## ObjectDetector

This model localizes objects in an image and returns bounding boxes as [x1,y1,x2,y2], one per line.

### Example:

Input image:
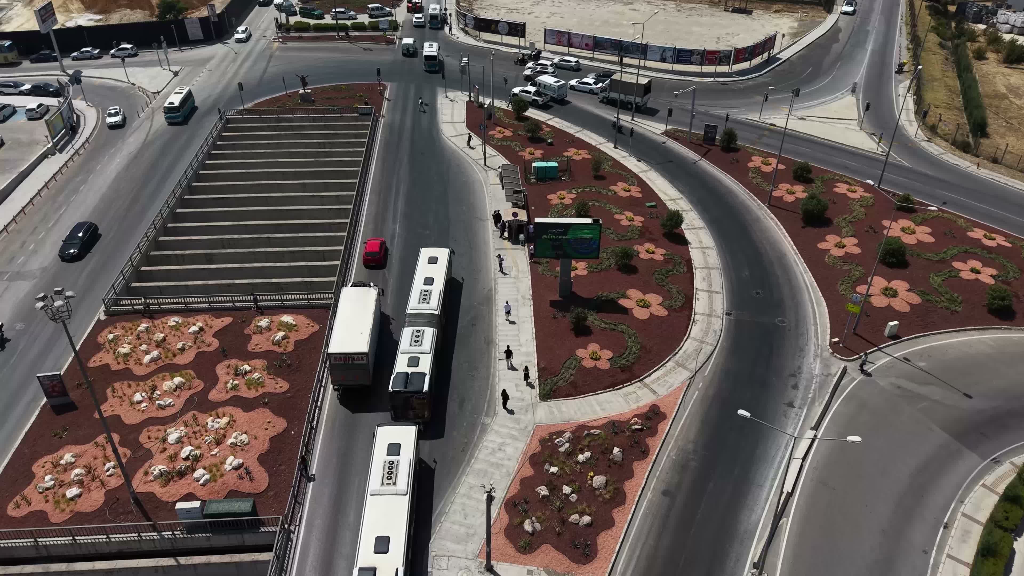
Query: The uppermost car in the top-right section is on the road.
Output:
[843,1,856,15]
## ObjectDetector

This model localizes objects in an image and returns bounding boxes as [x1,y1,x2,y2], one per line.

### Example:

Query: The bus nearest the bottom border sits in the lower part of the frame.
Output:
[352,425,426,576]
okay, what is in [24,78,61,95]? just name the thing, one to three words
car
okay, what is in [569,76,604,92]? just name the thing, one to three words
car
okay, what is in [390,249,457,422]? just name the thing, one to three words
bus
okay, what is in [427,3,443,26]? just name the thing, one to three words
vehicle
